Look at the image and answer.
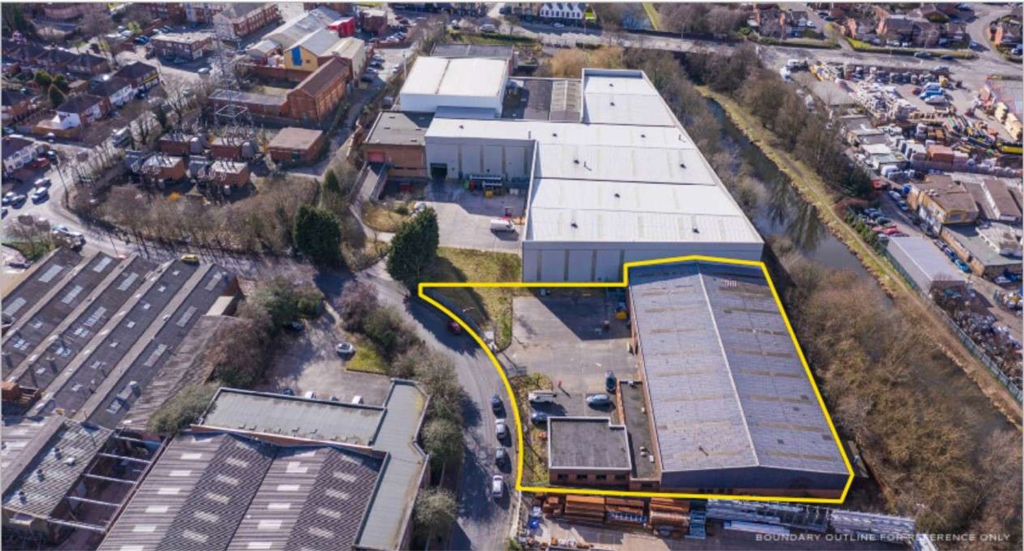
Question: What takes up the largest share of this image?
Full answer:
Most of the picture is covered by buildings.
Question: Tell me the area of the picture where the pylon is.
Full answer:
Look in the top left portion of the view to spot the pylon.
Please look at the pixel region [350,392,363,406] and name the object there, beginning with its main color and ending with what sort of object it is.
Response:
white vehicle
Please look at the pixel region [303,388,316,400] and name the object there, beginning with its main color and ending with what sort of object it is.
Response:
white vehicle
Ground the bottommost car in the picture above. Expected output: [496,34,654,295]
[490,471,505,497]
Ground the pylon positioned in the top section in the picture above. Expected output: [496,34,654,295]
[173,0,255,139]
